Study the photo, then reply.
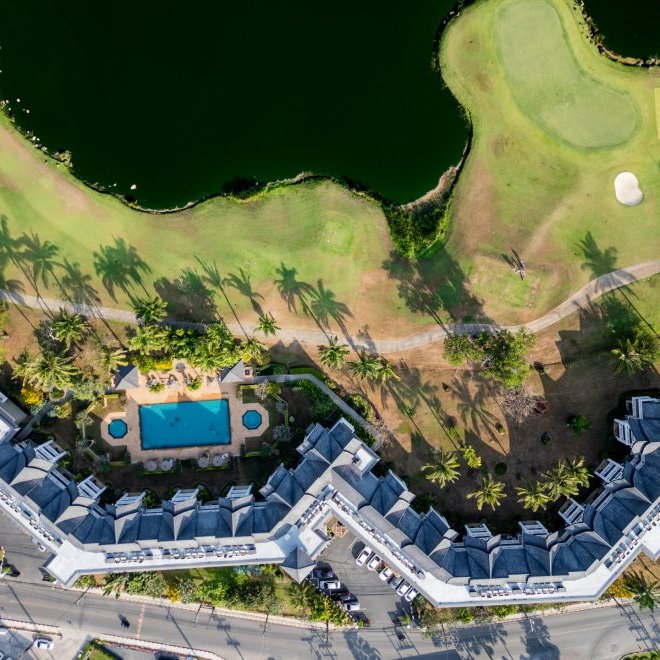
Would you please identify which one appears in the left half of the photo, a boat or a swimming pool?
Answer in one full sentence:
Looking in the left half of the photo, you will find a swimming pool.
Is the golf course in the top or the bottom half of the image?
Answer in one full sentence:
You can find the golf course in the top half.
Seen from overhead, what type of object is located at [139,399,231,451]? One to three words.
swimming pool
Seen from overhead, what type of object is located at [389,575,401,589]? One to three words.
vehicle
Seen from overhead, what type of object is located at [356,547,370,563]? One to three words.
vehicle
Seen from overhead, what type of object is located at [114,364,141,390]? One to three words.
building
